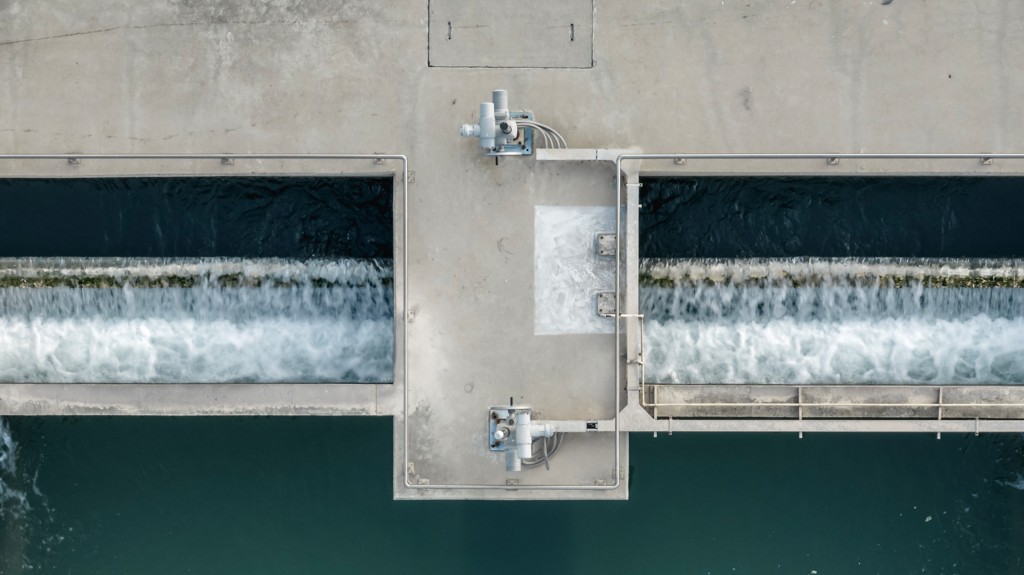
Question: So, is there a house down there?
No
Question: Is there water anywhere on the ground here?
Yes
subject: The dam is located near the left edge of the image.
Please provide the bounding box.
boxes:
[0,258,394,287]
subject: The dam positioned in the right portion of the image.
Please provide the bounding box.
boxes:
[639,258,1024,287]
